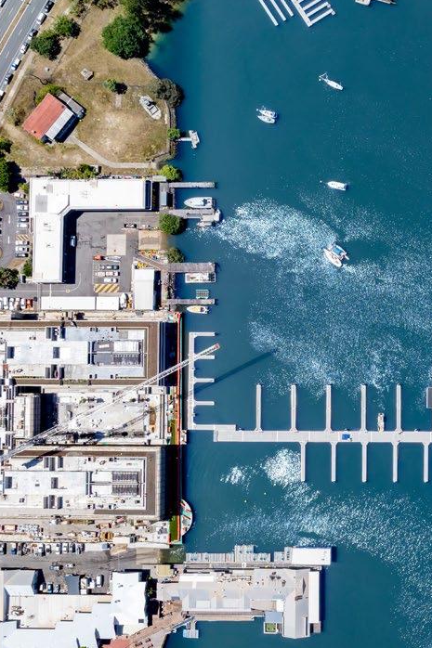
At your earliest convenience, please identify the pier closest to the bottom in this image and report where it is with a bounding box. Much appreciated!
[158,563,321,638]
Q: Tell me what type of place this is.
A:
port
